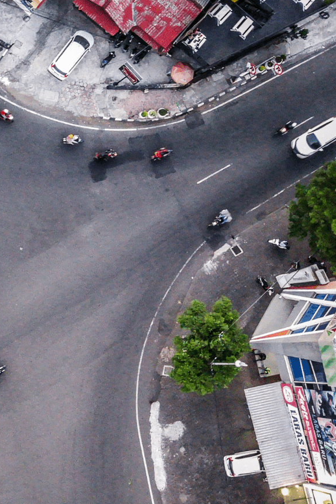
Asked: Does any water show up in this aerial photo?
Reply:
No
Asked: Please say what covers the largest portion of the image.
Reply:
paved ground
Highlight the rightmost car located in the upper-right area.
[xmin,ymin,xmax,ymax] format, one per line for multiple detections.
[287,111,336,158]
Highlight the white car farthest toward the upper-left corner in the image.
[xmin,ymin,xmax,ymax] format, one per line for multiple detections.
[48,30,92,82]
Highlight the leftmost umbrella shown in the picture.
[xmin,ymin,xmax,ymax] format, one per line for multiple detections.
[170,64,192,85]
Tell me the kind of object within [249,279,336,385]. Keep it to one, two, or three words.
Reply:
building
